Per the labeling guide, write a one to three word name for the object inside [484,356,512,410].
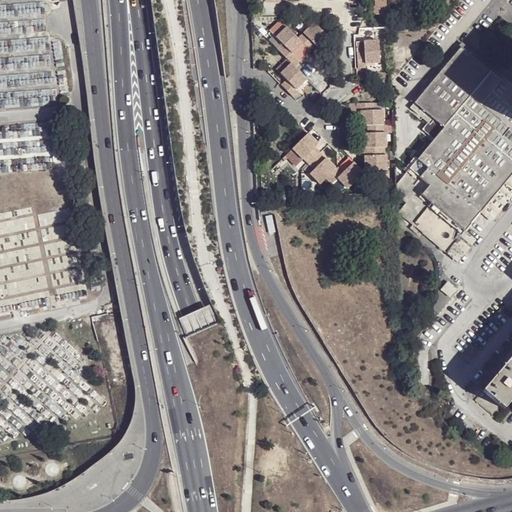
building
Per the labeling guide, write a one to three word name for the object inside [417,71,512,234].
building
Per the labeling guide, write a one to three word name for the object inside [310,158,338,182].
house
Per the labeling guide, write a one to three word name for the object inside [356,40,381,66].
house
